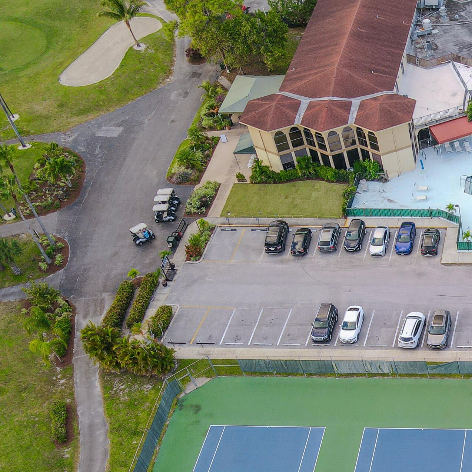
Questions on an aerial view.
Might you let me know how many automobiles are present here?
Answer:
eleven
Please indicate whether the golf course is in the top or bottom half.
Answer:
top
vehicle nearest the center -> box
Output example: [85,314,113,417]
[264,220,291,251]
